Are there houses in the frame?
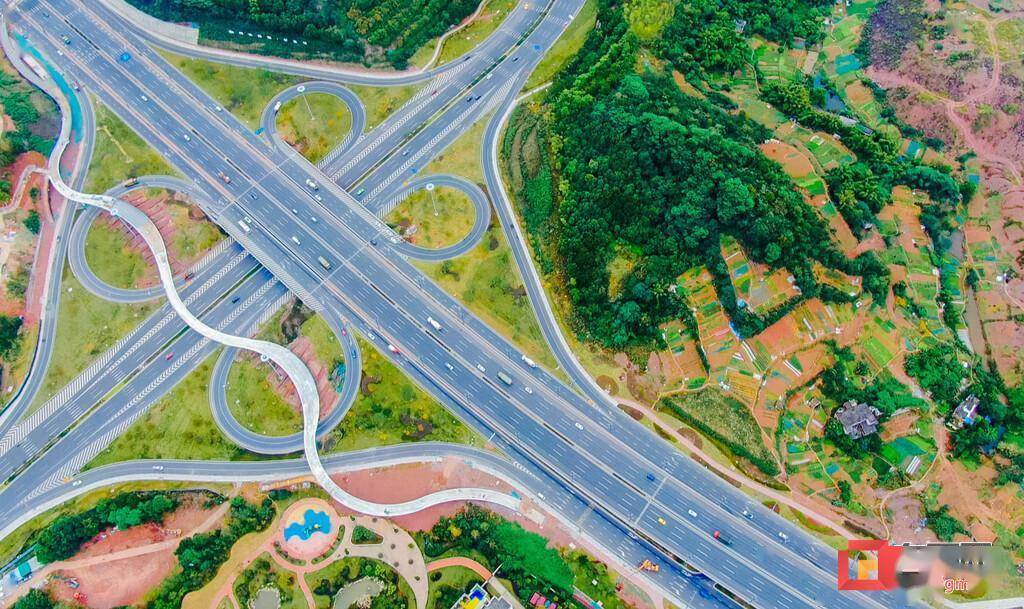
Yes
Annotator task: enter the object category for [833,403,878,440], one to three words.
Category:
house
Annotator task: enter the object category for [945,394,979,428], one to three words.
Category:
house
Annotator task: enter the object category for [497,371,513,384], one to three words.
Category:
vehicle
